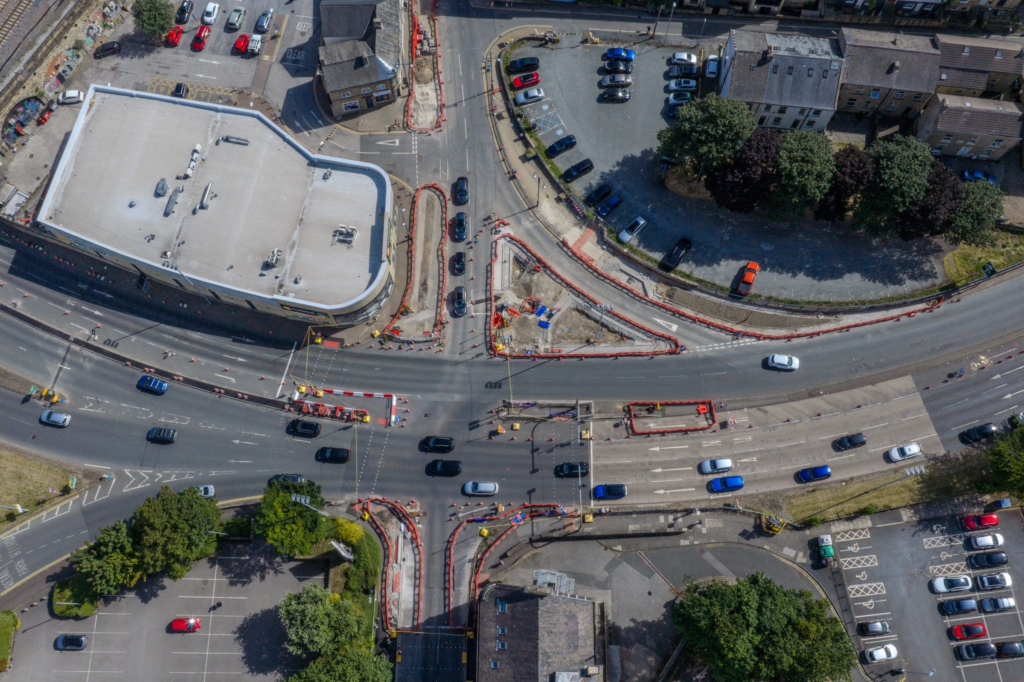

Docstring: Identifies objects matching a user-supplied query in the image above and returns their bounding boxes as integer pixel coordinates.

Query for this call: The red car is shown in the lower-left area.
[171,616,203,633]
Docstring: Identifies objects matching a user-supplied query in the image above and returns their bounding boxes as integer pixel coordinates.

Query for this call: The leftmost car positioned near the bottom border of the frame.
[53,634,89,652]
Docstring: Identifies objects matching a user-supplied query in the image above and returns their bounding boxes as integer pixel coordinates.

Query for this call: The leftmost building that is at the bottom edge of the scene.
[476,584,608,682]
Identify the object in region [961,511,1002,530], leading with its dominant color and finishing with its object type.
red car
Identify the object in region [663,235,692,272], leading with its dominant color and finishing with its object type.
black truck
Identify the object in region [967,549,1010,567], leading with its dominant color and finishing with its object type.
black car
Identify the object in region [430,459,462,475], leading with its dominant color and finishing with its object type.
black car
